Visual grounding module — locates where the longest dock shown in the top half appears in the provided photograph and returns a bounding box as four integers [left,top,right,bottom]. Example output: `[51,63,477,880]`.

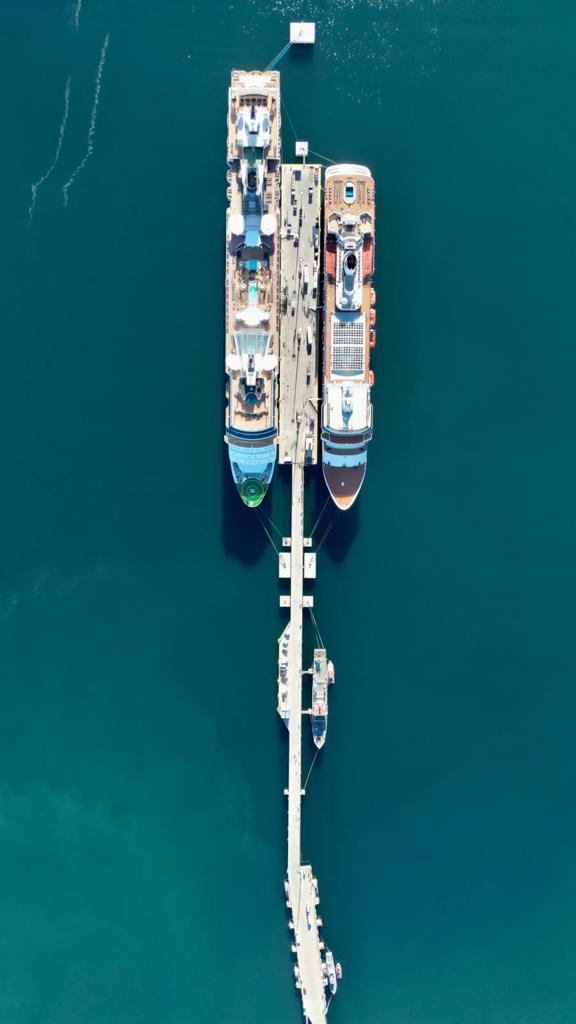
[279,164,323,464]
